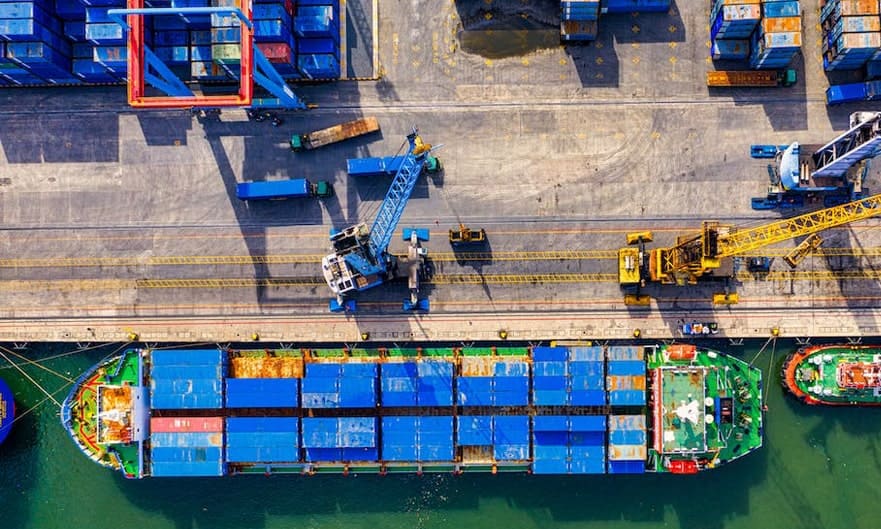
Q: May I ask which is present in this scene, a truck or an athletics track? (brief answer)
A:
truck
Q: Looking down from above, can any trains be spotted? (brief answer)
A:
No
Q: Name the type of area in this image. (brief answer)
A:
port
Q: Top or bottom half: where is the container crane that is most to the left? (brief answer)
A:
top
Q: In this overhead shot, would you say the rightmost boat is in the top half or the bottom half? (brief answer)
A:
bottom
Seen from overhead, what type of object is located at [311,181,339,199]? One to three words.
vehicle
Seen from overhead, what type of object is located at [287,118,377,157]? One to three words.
truck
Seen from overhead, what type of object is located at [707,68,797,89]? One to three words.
vehicle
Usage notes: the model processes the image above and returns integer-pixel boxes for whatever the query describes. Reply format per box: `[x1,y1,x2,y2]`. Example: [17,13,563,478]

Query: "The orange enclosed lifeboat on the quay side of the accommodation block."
[662,345,698,363]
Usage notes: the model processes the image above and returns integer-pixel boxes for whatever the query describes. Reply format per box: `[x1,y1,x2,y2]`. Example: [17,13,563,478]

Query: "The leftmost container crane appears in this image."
[114,0,317,113]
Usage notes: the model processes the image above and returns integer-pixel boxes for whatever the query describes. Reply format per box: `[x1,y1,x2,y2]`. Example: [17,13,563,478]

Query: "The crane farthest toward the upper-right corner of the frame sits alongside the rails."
[751,104,881,210]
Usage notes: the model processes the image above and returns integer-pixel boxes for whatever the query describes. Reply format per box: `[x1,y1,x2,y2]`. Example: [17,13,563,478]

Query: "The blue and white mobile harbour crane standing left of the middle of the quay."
[322,133,468,311]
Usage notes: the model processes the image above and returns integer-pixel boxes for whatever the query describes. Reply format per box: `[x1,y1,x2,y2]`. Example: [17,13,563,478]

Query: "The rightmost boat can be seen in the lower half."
[777,344,881,407]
